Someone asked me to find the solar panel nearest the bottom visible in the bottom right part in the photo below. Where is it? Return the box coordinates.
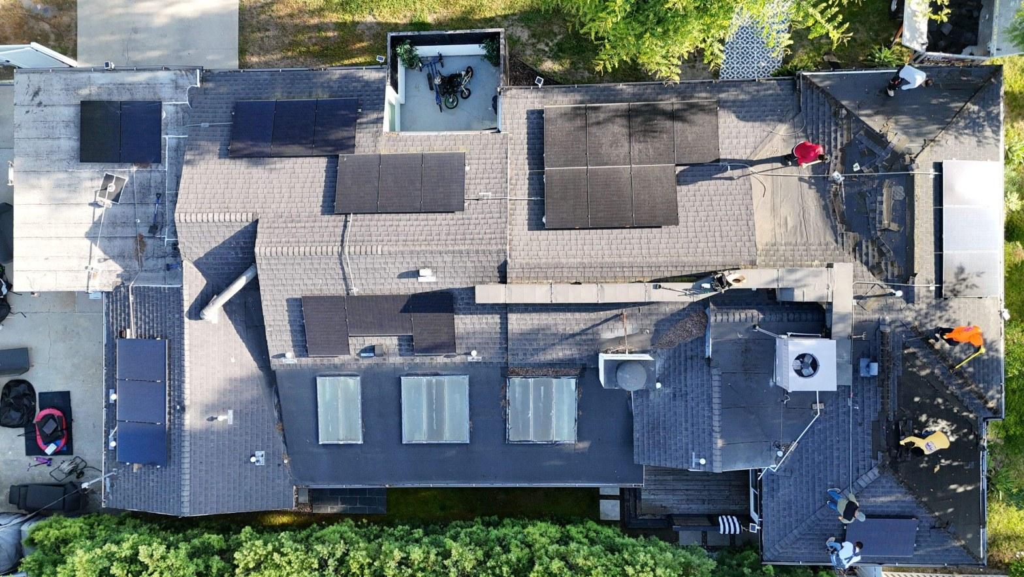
[845,517,918,556]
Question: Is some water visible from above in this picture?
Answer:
No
